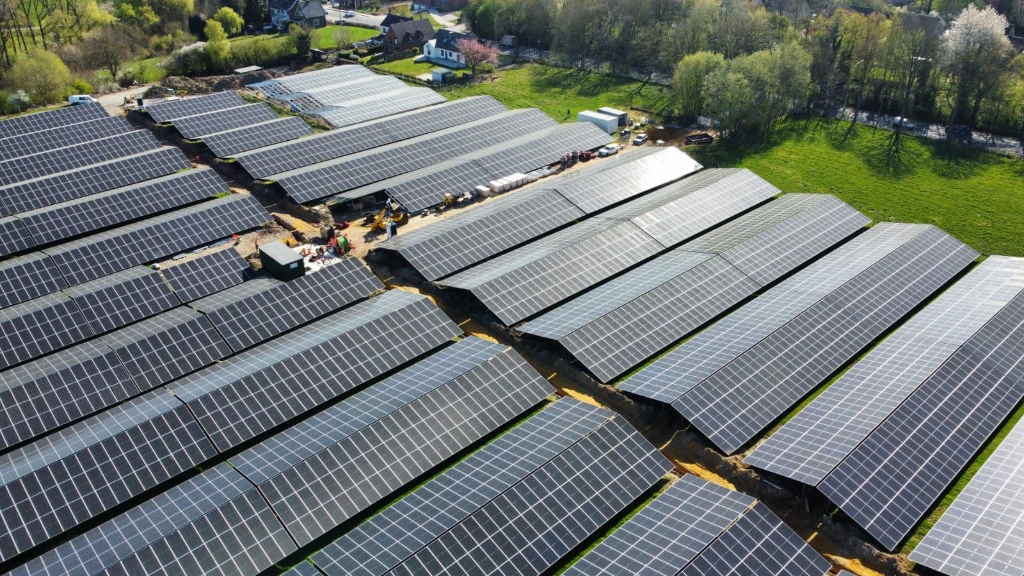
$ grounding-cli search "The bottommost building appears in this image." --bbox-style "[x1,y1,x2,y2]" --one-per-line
[256,239,306,280]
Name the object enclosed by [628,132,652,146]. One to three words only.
car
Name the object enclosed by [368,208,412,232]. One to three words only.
work vehicle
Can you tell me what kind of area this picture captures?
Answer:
solar farm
